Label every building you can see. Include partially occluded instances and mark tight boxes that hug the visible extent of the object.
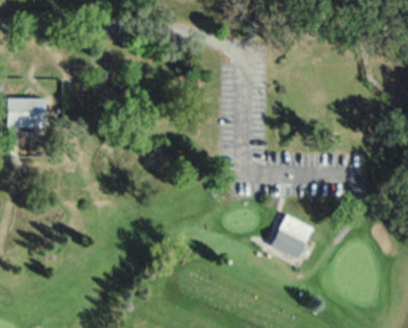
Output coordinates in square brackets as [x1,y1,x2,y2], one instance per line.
[270,214,316,260]
[7,98,46,128]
